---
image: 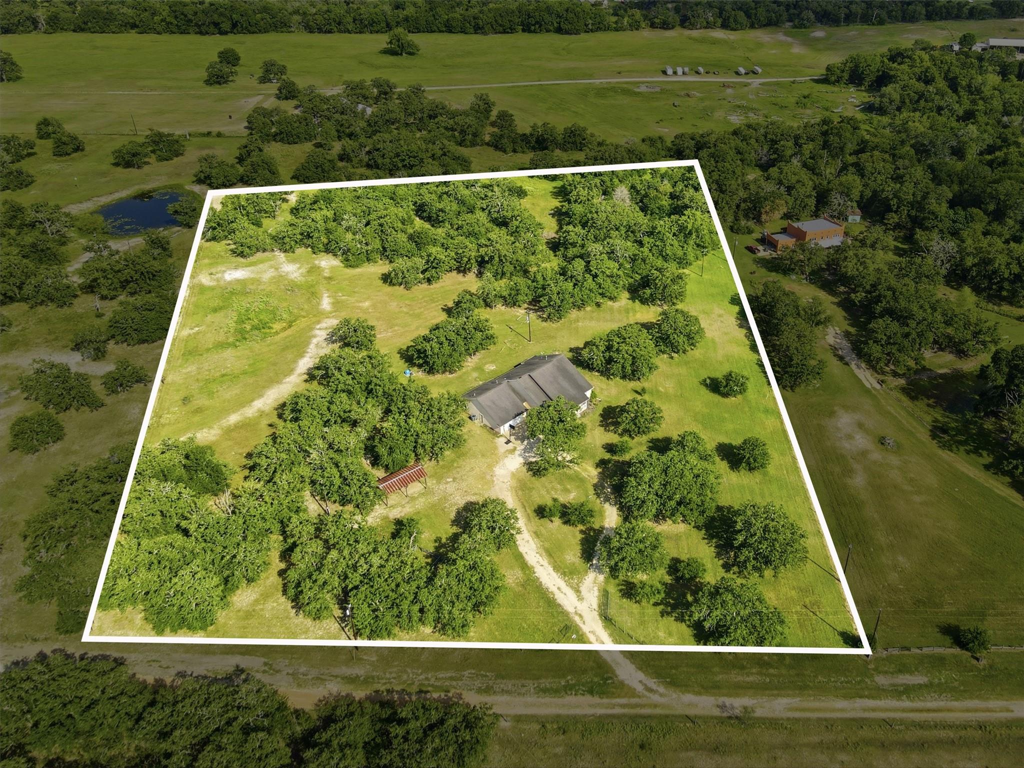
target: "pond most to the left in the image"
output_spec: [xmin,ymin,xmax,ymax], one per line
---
[101,193,190,236]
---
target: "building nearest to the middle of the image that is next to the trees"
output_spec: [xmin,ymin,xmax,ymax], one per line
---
[453,358,597,437]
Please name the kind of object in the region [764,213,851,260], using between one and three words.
building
